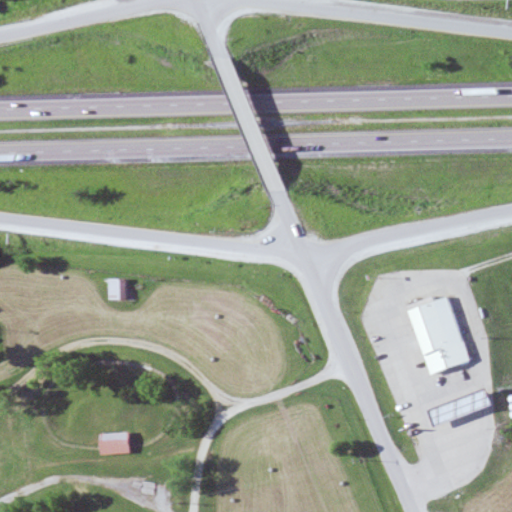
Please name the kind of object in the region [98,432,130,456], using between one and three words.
barn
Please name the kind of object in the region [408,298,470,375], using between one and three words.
gas station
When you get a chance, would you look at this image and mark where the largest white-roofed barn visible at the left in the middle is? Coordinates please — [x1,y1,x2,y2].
[104,278,126,301]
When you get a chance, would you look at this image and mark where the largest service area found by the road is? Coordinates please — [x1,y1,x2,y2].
[362,268,494,508]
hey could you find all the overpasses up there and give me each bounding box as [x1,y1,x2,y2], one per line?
[213,54,286,194]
